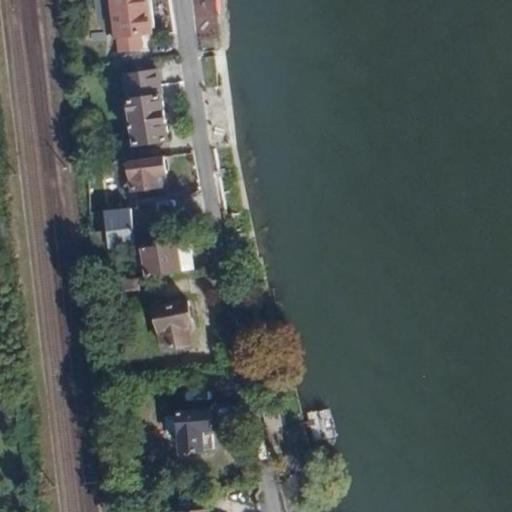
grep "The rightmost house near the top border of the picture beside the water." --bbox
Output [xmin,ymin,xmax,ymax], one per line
[193,0,225,54]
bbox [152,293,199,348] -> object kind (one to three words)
house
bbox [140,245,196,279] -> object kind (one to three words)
house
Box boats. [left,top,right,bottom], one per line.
[306,408,339,446]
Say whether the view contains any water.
Yes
